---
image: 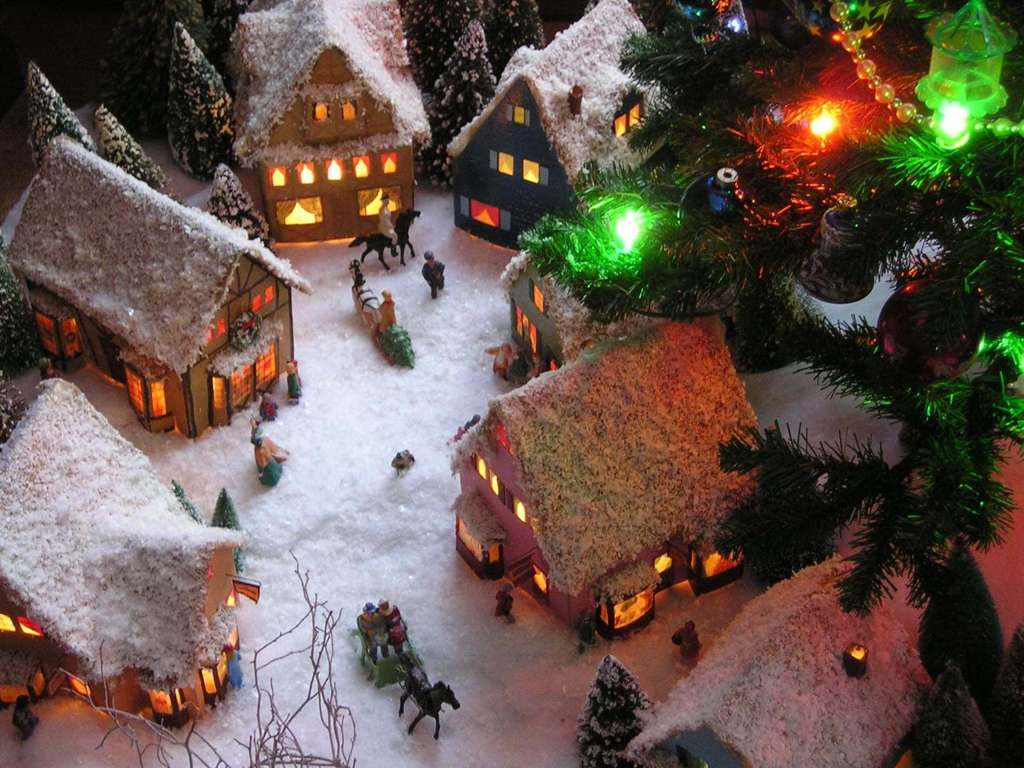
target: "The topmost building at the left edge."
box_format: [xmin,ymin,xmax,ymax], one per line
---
[12,133,313,437]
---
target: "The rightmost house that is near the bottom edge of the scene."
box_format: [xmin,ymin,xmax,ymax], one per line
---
[628,555,932,768]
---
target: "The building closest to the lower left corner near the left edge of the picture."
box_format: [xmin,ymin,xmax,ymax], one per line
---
[0,370,252,730]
